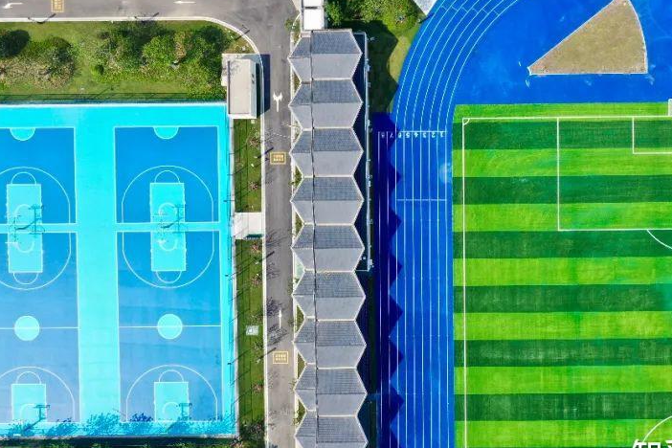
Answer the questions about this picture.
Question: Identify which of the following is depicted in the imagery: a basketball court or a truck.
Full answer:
This aerial view contains a basketball court.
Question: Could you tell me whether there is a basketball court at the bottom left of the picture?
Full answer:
Yes, there is a basketball court at the bottom left of the picture.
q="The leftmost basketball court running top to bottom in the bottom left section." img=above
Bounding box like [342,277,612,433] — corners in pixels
[0,232,80,422]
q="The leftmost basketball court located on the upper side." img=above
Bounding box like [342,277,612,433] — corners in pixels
[0,127,76,223]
